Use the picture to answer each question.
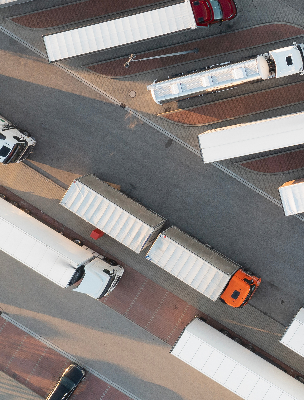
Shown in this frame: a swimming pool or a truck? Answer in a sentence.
Of the two, only a truck appears.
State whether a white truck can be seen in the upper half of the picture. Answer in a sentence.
Yes, a white truck appears in the upper half of the picture.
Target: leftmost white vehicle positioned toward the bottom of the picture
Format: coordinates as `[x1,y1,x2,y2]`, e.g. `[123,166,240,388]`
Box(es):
[0,195,127,305]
